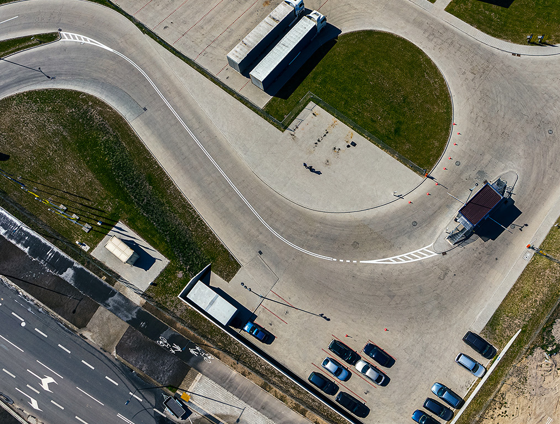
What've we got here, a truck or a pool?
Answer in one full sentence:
It is a truck that can be seen here.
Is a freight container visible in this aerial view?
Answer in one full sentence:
Yes, the picture does show a freight container.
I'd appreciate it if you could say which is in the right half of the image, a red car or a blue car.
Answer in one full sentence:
There is a blue car in the right half of the image.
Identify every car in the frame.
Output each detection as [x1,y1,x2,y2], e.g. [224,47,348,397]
[355,356,386,388]
[432,379,465,413]
[412,405,443,424]
[456,349,485,378]
[463,327,497,360]
[328,335,358,366]
[424,394,453,422]
[366,341,394,370]
[245,319,271,344]
[321,353,349,382]
[335,387,369,420]
[309,368,339,398]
